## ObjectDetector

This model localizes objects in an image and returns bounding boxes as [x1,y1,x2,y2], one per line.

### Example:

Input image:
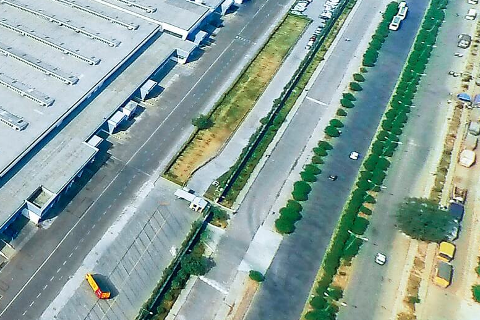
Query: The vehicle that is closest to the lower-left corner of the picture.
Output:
[87,269,112,297]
